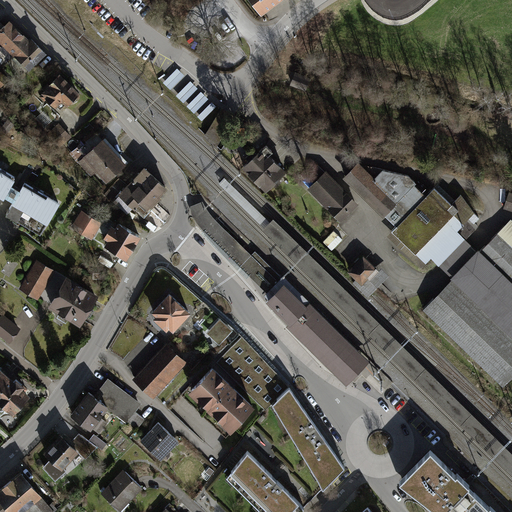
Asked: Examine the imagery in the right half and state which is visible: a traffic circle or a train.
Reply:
traffic circle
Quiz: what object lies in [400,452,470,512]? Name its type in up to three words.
building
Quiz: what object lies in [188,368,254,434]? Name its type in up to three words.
house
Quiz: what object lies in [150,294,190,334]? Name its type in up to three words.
house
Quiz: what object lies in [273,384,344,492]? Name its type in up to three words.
building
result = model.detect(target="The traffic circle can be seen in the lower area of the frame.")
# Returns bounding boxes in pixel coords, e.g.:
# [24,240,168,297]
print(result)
[346,408,414,476]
